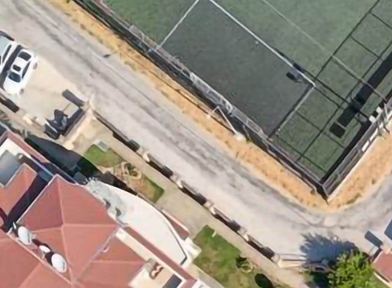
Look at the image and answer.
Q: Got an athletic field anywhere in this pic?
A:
Yes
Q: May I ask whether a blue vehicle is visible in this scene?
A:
No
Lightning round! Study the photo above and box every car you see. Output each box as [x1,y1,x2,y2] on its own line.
[1,46,40,95]
[0,31,19,78]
